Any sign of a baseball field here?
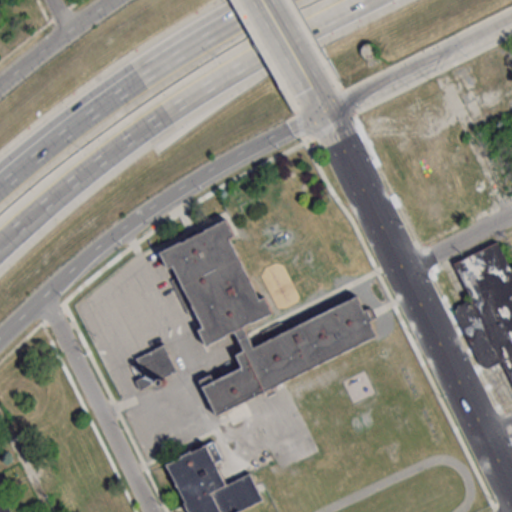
No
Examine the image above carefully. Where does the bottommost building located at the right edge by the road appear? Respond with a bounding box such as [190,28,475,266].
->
[452,244,512,373]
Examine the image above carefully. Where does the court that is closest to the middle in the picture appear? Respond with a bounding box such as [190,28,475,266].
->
[262,263,298,308]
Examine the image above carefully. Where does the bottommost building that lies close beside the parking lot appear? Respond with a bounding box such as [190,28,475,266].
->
[167,434,262,512]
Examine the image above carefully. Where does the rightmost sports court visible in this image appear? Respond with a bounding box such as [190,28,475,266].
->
[344,371,376,404]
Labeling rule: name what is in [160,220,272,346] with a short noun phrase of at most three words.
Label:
building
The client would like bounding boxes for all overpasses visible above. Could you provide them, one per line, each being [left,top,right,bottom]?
[232,0,344,114]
